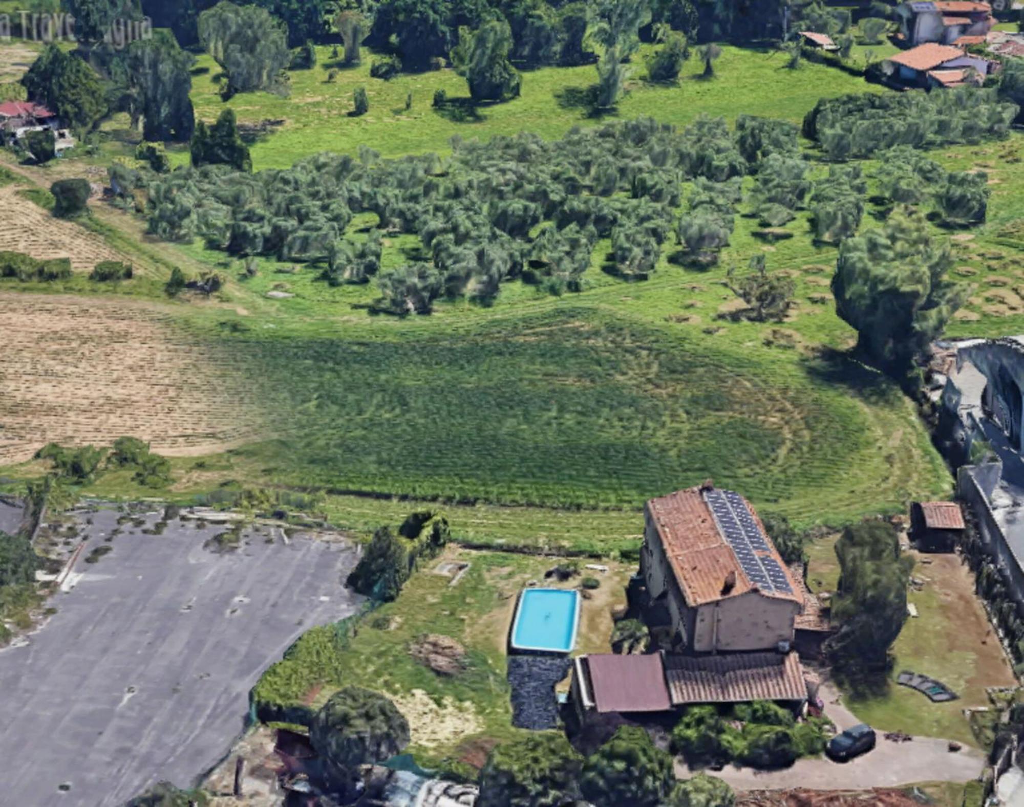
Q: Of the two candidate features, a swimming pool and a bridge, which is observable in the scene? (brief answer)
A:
swimming pool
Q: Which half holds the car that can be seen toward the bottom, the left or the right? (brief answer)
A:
right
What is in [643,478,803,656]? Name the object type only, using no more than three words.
house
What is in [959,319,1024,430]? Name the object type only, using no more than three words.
hangar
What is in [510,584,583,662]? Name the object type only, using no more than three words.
swimming pool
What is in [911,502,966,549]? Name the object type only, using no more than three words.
shed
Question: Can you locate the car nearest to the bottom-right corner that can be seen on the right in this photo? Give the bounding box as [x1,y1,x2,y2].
[828,724,877,762]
